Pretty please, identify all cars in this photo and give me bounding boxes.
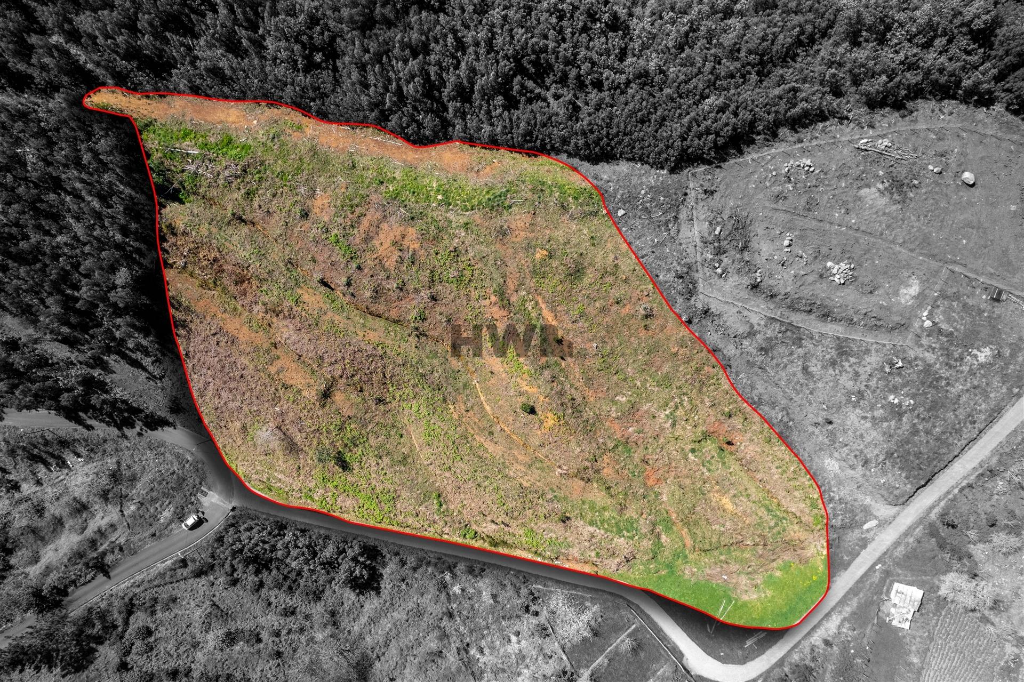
[179,515,202,533]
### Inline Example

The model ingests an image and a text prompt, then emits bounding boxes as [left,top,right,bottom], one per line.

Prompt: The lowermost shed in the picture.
[888,583,924,628]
